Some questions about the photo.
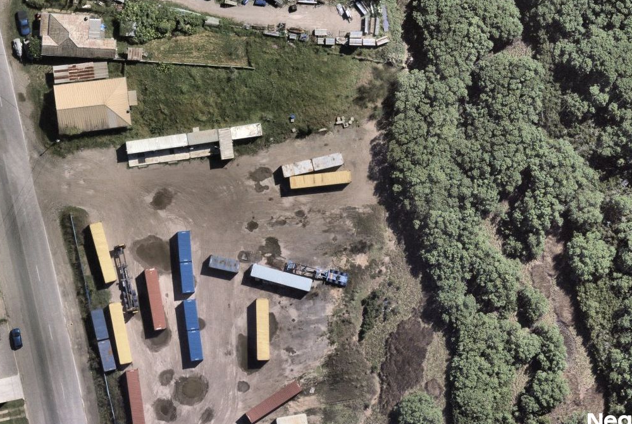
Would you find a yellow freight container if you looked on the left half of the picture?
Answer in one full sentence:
Yes, you'll find a yellow freight container on the left half of the picture.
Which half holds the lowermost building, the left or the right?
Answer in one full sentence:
It is on the left.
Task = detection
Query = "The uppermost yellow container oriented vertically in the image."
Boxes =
[90,220,116,283]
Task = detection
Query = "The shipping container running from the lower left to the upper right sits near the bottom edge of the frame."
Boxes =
[245,379,304,424]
